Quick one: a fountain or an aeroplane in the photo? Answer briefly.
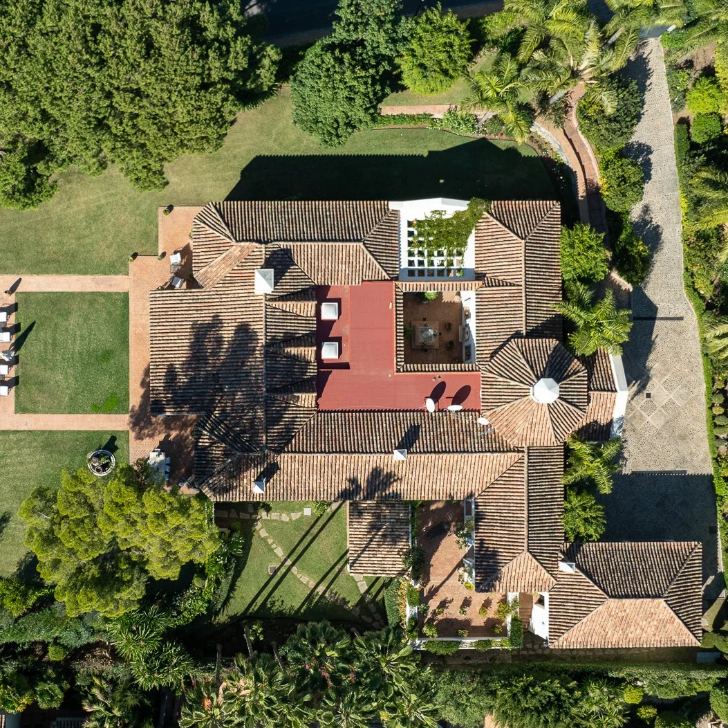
fountain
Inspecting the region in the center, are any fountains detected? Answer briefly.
Yes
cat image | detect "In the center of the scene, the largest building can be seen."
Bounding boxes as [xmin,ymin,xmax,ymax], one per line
[149,198,706,650]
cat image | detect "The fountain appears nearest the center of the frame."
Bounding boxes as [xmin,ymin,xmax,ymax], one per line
[412,321,439,348]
